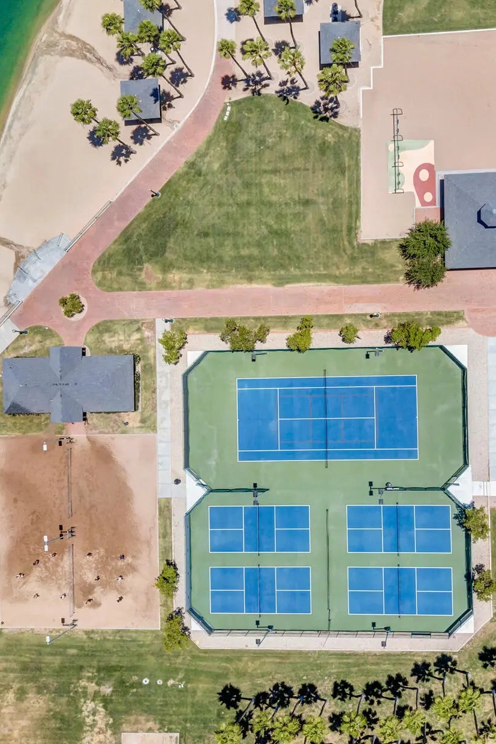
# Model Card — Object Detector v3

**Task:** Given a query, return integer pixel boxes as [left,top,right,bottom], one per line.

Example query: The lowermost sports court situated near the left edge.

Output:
[0,533,160,631]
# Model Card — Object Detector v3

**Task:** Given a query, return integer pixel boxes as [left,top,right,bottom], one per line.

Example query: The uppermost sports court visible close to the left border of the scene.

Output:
[0,434,159,533]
